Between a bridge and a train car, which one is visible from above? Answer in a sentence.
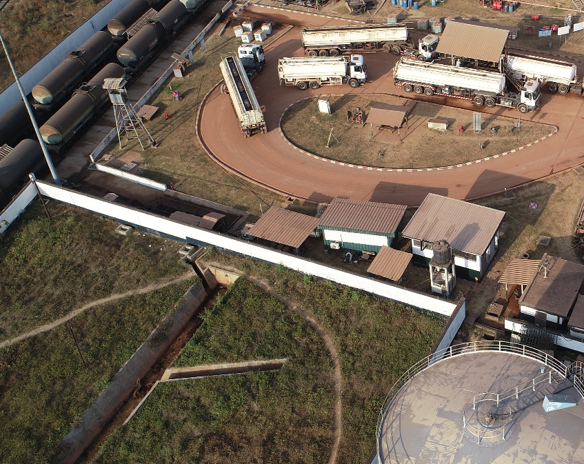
Visible in the photo is a train car.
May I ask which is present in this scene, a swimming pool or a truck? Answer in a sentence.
Visible in the photo is a truck.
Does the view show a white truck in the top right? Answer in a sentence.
Yes, in the top right there is a white truck.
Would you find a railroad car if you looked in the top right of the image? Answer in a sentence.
No, there's no railroad car to be seen in the top right of the image.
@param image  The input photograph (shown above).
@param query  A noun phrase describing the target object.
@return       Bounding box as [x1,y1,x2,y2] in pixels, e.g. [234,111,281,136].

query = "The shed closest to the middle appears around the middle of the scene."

[248,206,319,252]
